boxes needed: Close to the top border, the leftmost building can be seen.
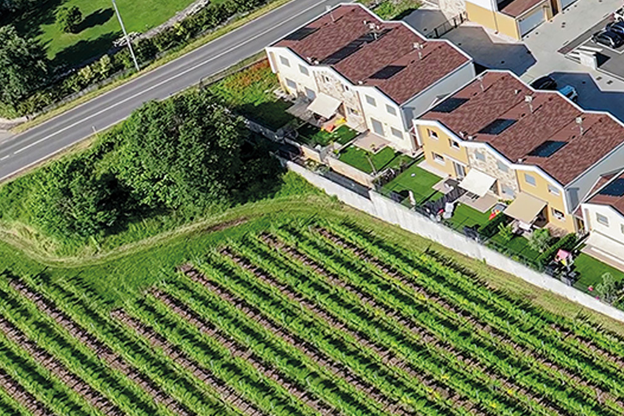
[267,2,490,149]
